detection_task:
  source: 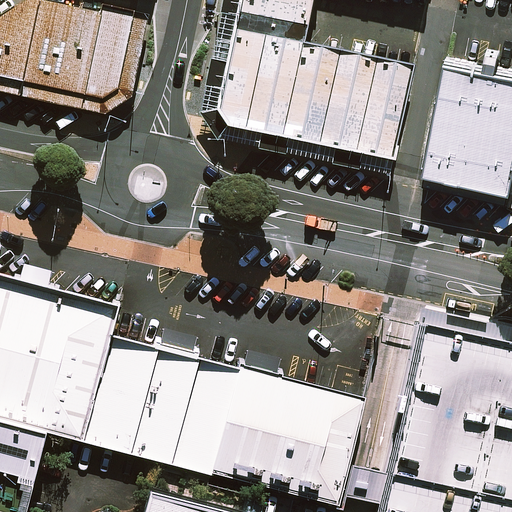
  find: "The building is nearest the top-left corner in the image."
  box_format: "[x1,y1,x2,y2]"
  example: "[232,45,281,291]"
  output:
[0,0,147,114]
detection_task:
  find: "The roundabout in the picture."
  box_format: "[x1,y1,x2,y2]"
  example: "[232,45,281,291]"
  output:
[128,164,167,202]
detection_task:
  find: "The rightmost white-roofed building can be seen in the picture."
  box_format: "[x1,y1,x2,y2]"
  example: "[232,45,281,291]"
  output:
[423,48,512,208]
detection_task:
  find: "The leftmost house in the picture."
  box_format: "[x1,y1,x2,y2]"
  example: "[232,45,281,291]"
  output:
[0,426,46,488]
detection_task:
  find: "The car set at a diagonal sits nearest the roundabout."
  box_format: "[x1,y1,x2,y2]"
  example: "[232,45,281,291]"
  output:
[145,200,168,218]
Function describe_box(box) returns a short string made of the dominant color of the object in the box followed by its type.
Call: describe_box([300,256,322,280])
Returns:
black car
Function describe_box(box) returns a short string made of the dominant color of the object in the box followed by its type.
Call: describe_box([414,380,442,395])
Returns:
white vehicle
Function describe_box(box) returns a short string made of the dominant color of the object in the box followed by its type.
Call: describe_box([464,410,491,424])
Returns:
white vehicle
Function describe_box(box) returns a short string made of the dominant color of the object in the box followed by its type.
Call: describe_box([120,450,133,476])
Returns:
black vehicle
